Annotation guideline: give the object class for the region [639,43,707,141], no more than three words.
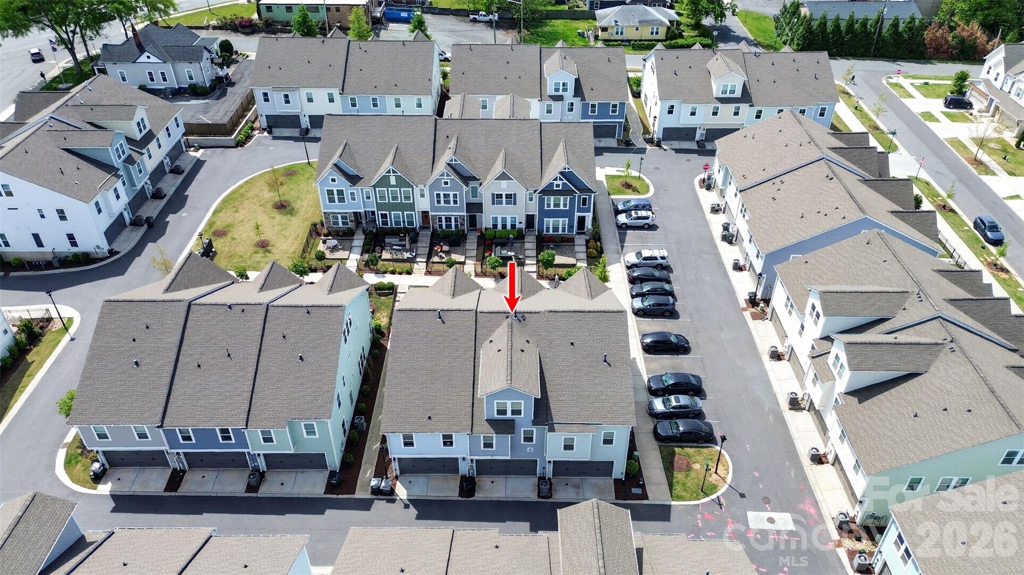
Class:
house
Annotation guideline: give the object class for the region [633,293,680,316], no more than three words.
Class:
car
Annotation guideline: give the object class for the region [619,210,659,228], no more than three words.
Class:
car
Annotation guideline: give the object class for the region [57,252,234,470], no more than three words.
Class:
house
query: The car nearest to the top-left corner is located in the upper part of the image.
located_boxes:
[28,47,50,61]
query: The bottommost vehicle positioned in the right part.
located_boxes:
[658,414,718,440]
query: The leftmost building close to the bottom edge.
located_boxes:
[0,485,111,575]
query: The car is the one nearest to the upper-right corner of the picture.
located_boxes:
[941,94,975,108]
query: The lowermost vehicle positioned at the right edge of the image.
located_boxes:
[976,217,1009,245]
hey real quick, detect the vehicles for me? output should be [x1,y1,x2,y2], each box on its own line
[619,210,659,228]
[28,47,50,61]
[471,12,498,23]
[630,279,677,298]
[439,50,451,61]
[616,198,655,215]
[647,369,703,392]
[625,246,670,267]
[658,414,718,440]
[640,329,692,351]
[650,390,708,415]
[941,94,975,108]
[976,217,1009,245]
[633,293,680,316]
[627,264,672,282]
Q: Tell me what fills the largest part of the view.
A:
buildings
